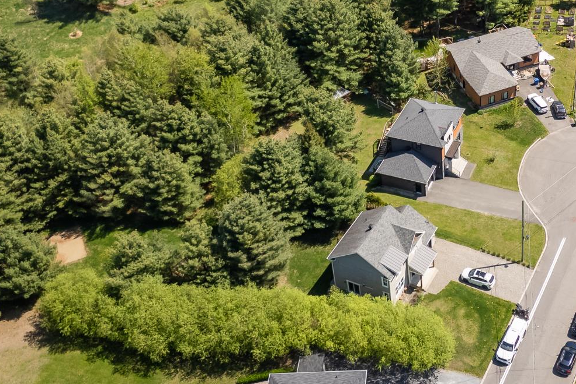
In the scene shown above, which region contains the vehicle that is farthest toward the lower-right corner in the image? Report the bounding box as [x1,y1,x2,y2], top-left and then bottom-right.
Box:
[554,340,576,379]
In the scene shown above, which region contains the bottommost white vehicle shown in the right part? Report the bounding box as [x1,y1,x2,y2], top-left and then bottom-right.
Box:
[496,318,530,366]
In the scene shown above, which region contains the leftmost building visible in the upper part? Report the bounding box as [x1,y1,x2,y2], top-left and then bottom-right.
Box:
[368,97,469,196]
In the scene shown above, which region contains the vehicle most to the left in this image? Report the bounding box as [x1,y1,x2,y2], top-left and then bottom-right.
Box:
[460,268,497,292]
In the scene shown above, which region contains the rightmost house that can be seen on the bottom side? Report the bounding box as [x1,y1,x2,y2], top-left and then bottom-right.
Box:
[327,205,440,299]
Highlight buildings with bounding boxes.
[327,205,440,299]
[448,26,541,108]
[368,97,469,196]
[267,354,366,384]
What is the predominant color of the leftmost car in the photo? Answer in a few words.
white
